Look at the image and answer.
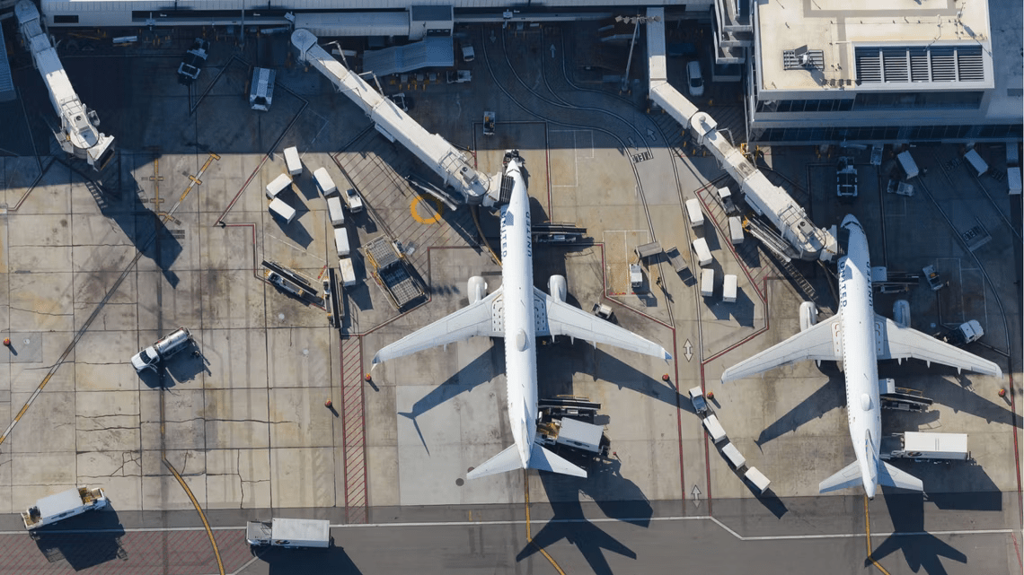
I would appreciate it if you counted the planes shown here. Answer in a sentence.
My tally gives 2 planes in this view.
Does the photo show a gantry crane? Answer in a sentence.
No, I can't see a single gantry crane in this photo.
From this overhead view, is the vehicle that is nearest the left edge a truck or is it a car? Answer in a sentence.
The vehicle that is nearest the left edge is a truck.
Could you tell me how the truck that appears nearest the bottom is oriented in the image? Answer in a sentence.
I'd say the truck that appears nearest the bottom is aligned horizontally in the picture.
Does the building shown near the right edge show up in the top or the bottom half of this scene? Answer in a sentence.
It is in the top half that the building shown near the right edge appears.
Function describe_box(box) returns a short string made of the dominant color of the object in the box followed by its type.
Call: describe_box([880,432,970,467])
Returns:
white truck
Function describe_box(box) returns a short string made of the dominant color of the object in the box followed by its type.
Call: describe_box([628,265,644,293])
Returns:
white work vehicle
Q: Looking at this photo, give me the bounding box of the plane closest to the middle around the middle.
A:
[370,159,674,479]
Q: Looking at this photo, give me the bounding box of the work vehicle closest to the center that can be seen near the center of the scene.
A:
[533,228,586,256]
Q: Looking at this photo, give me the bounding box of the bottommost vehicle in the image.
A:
[243,519,335,555]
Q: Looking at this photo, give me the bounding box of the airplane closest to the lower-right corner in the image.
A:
[721,214,1006,501]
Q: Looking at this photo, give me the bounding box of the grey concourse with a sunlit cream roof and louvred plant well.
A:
[738,0,1024,168]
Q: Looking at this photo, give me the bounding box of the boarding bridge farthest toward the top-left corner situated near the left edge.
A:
[12,0,117,170]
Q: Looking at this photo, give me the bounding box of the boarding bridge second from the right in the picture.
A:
[291,29,511,237]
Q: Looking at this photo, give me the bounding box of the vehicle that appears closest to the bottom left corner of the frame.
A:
[13,484,108,534]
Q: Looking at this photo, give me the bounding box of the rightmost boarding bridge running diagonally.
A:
[686,109,848,304]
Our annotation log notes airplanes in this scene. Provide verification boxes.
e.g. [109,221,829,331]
[370,159,674,479]
[721,214,1006,501]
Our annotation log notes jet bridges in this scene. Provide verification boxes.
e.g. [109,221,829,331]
[686,109,848,304]
[291,29,511,237]
[12,0,117,170]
